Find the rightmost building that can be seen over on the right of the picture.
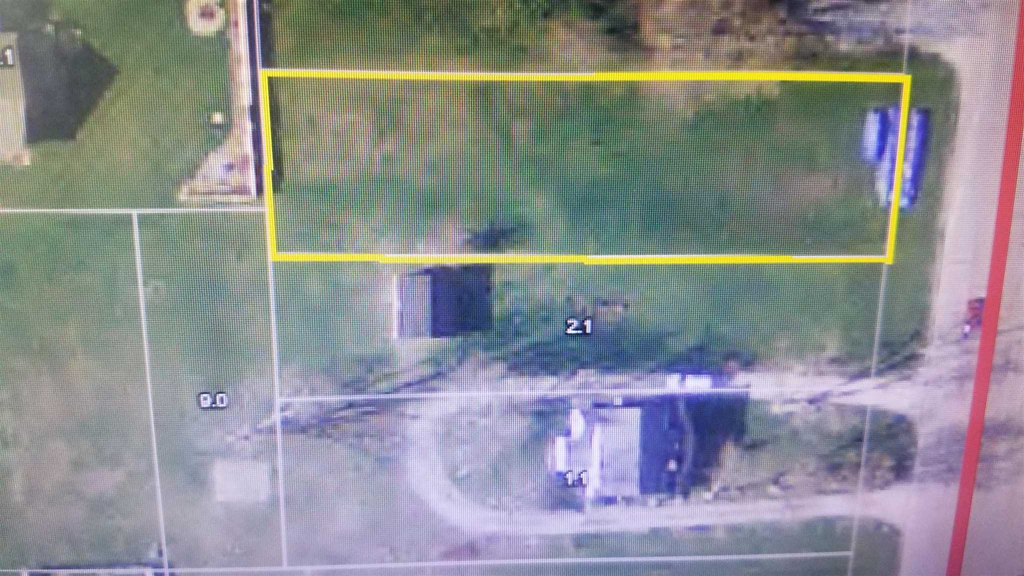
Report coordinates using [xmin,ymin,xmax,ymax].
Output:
[549,400,694,514]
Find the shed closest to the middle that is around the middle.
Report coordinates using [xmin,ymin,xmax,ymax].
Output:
[394,274,470,339]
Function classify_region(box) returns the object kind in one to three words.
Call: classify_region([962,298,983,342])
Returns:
work vehicle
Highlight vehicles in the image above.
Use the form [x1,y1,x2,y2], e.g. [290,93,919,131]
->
[665,371,729,394]
[962,298,983,342]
